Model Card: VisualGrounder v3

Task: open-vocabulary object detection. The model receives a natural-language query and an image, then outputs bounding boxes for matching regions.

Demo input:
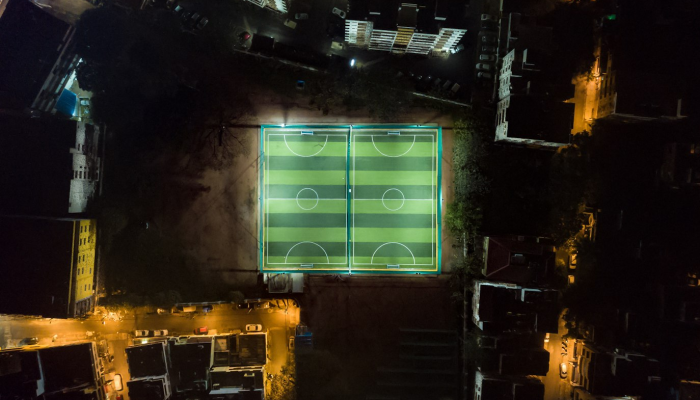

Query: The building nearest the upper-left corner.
[0,0,88,105]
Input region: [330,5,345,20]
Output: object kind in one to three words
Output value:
car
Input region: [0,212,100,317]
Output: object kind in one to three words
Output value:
building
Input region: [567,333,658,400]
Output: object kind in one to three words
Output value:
house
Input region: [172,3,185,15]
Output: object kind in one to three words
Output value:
vehicle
